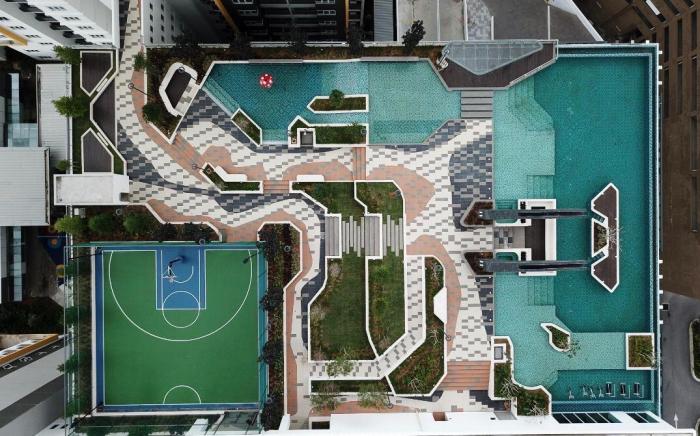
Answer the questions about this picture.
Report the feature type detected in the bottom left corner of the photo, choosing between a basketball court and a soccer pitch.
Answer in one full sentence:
The feature located in the bottom left corner of the photo is a basketball court.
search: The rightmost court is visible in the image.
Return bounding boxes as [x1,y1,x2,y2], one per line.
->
[92,243,265,415]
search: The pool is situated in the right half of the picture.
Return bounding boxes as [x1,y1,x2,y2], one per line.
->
[202,40,665,422]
